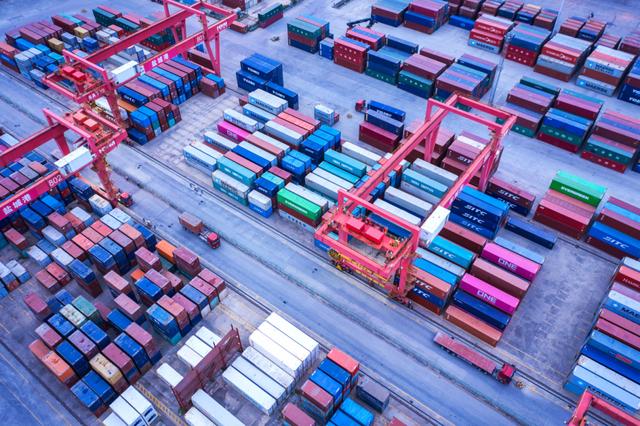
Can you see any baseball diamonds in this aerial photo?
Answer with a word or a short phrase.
No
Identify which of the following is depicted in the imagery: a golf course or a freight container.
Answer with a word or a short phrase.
freight container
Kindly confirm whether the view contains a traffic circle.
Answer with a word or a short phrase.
No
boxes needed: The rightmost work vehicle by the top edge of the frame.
[346,11,382,32]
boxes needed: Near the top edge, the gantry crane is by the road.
[41,0,239,141]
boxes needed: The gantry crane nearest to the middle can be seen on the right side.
[312,93,520,305]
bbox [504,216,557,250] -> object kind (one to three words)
shipping container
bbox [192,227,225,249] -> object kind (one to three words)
truck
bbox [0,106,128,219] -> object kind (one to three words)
container crane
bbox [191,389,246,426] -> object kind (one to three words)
shipping container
